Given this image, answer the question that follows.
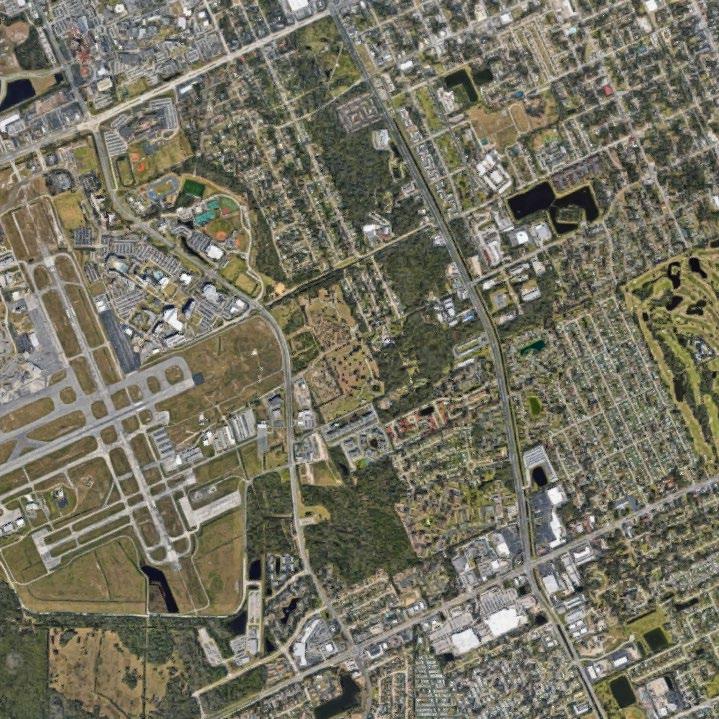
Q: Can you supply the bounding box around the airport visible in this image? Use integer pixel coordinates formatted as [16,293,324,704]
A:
[0,196,286,617]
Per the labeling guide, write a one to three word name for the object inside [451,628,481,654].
building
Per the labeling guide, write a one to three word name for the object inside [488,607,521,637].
building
